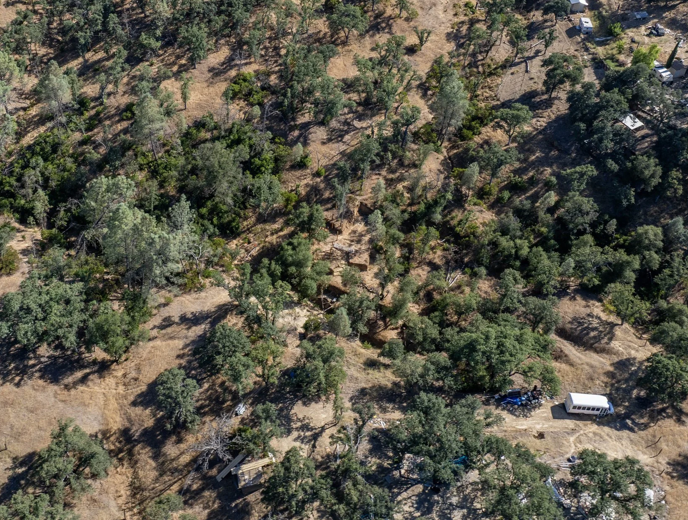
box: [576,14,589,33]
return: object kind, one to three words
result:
vehicle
